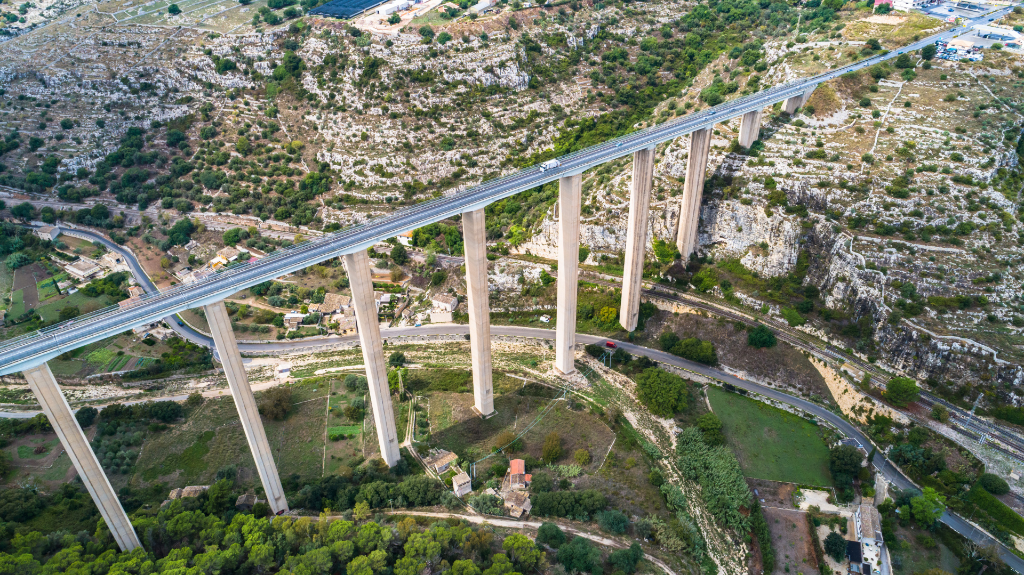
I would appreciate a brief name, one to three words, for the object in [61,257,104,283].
house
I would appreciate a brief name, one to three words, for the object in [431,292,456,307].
house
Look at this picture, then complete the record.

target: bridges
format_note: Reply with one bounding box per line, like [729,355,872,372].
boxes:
[0,70,828,564]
